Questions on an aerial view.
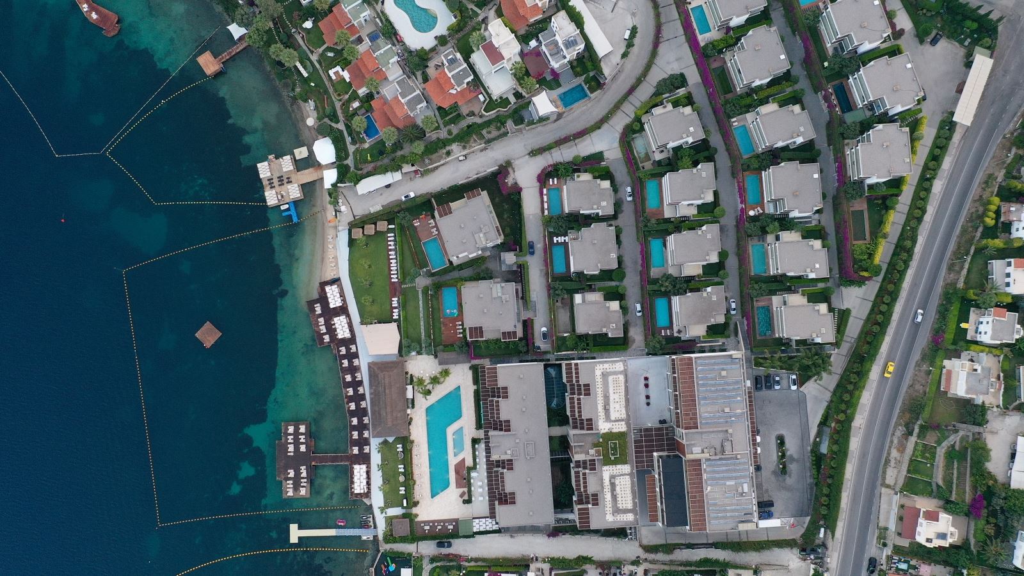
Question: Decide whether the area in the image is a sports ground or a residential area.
residential area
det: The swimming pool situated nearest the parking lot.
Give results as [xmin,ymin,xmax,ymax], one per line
[755,305,773,338]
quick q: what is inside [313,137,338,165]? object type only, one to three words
tent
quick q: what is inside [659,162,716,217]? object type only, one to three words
house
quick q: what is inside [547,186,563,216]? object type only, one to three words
swimming pool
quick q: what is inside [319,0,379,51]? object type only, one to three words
house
